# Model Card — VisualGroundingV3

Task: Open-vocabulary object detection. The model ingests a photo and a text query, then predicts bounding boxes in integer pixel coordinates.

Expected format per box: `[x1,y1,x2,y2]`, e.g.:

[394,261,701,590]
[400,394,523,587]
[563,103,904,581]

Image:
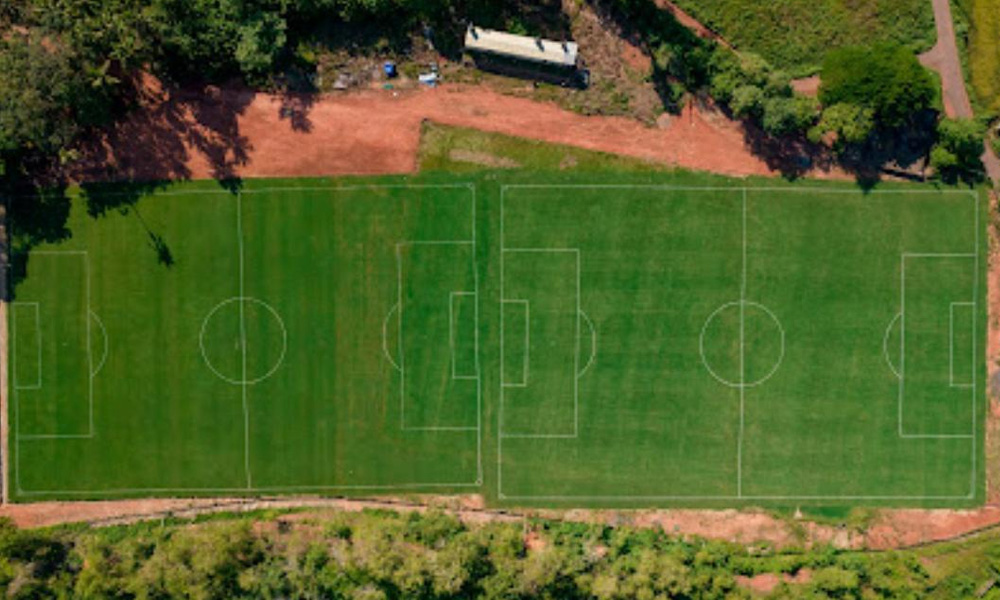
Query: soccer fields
[8,171,488,507]
[488,170,989,519]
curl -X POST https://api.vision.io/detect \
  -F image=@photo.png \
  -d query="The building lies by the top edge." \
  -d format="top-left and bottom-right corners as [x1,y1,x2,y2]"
[463,23,580,81]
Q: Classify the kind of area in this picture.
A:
sports ground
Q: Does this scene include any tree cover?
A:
Yes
